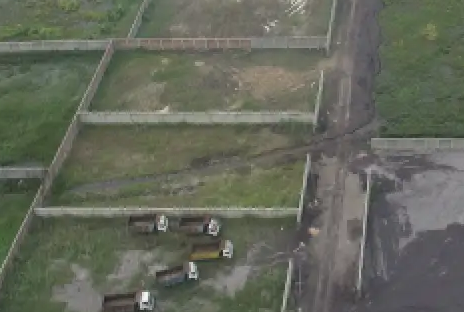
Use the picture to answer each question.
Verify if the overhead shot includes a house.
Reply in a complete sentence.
No, I can see no house in this picture.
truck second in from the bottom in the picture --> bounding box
[151,257,199,285]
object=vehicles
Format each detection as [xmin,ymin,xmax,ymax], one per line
[97,288,157,312]
[187,236,234,260]
[175,213,221,237]
[151,257,199,285]
[123,212,169,234]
